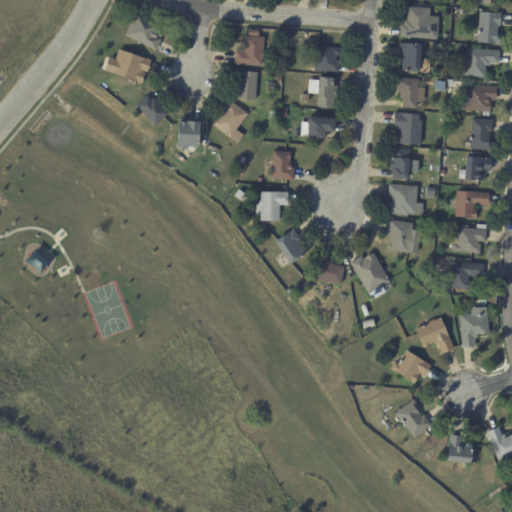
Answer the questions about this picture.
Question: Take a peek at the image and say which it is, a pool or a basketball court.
basketball court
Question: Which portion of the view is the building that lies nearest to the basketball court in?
left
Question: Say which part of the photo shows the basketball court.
left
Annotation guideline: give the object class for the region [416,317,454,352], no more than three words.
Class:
house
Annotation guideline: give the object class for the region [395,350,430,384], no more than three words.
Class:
house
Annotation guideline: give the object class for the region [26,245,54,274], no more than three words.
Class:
building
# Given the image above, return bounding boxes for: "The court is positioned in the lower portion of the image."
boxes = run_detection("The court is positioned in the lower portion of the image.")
[84,282,132,339]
